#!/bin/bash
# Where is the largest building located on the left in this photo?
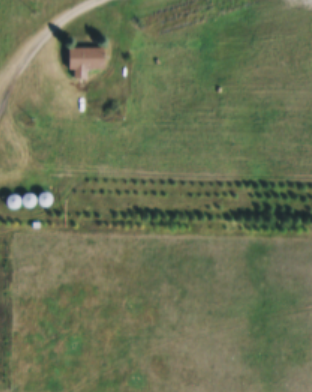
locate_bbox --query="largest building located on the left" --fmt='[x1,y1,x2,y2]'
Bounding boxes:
[69,46,104,79]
